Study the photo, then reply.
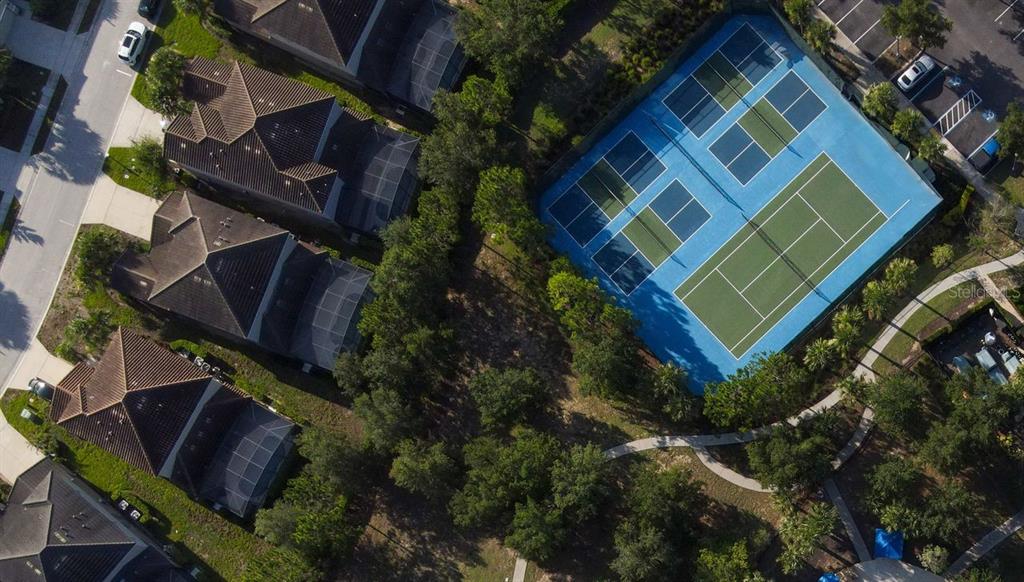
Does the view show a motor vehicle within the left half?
Yes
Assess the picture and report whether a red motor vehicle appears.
No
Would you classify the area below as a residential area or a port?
residential area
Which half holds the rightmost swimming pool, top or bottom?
top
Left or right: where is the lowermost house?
left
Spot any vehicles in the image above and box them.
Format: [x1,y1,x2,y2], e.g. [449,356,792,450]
[971,129,1013,171]
[117,21,148,67]
[27,381,55,404]
[895,55,935,94]
[137,0,163,21]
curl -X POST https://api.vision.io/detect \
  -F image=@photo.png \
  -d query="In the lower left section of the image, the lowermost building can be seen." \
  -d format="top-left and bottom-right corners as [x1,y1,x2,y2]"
[0,457,205,582]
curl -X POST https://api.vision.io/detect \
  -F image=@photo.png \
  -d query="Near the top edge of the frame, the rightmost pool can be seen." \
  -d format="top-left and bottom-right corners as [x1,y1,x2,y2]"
[386,0,476,125]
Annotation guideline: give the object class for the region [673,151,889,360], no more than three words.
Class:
tennis court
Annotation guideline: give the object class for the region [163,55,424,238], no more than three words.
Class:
house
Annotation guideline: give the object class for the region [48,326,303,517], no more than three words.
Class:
house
